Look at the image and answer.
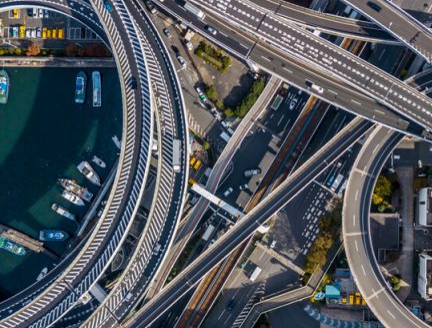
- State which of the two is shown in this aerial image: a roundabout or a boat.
boat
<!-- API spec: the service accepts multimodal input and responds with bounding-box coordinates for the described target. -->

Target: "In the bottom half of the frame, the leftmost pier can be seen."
[2,229,45,251]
